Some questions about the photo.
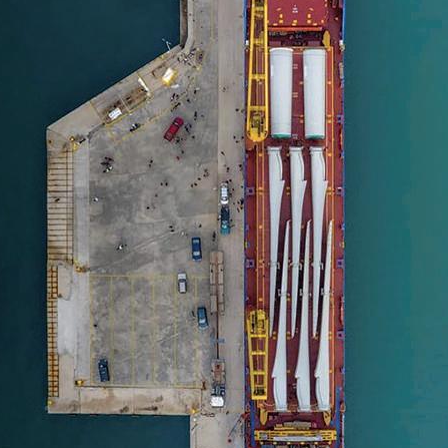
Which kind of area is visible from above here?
port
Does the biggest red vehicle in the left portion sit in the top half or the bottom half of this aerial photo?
top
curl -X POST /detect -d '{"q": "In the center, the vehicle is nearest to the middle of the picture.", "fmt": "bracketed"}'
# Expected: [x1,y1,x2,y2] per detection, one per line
[219,206,231,234]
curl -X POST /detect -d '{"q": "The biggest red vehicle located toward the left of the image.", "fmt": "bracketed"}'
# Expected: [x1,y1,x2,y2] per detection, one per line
[163,116,183,142]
